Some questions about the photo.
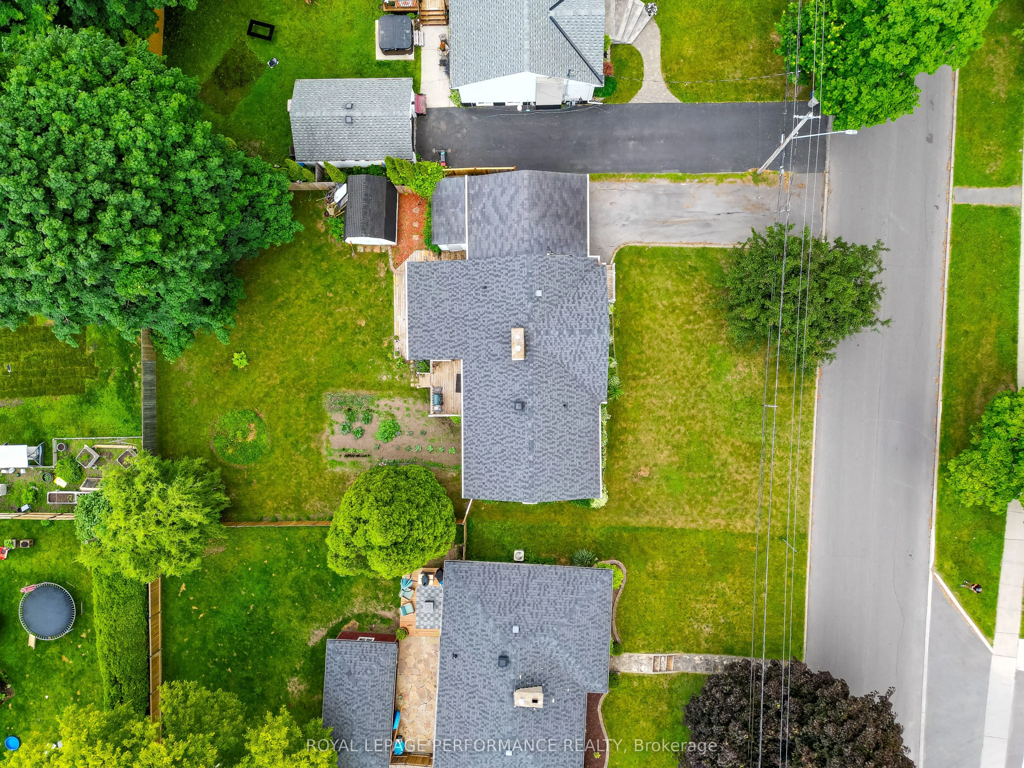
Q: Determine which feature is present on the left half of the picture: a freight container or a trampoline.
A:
trampoline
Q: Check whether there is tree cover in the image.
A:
Yes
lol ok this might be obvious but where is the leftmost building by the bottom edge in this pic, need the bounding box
[324,631,400,768]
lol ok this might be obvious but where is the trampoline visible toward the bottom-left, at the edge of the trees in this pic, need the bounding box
[18,583,80,640]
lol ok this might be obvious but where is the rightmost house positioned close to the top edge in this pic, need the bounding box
[448,0,608,111]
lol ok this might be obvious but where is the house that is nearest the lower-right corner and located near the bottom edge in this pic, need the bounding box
[432,557,613,768]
